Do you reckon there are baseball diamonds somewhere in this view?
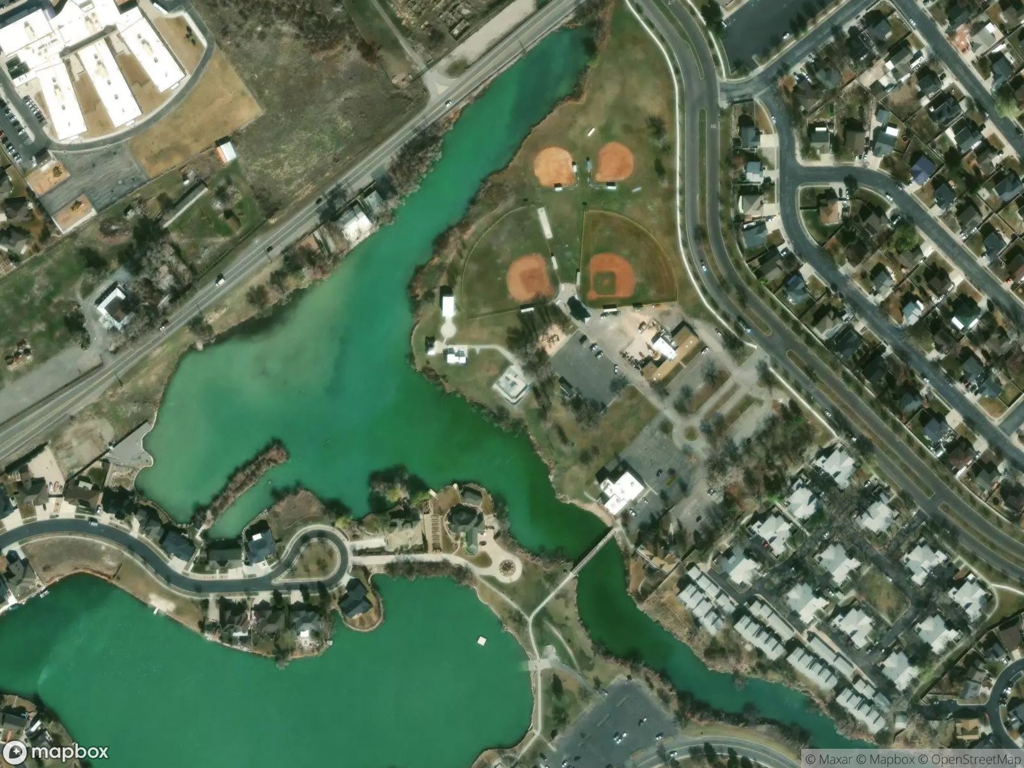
Yes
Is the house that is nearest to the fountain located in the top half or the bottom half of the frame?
bottom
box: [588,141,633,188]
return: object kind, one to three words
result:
baseball field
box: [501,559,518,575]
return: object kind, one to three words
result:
fountain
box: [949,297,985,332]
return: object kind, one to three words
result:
house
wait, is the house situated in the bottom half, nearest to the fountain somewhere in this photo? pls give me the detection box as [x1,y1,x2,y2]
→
[448,504,485,552]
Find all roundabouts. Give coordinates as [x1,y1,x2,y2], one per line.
[673,415,709,451]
